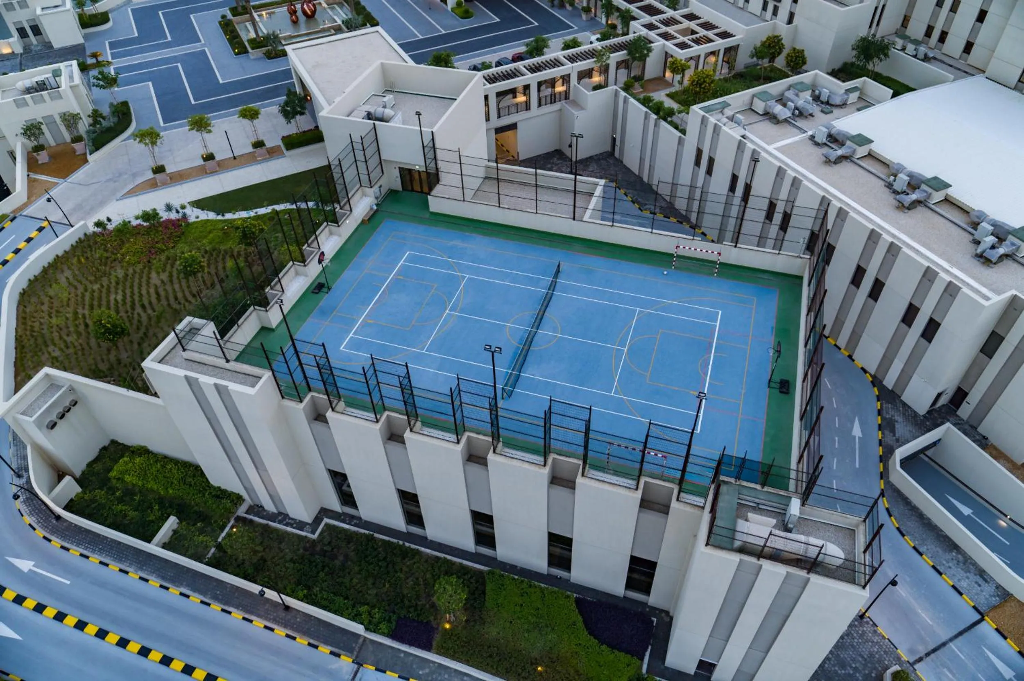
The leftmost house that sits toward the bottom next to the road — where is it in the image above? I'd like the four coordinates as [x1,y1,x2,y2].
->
[20,381,113,484]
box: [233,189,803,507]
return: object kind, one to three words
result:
sports court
